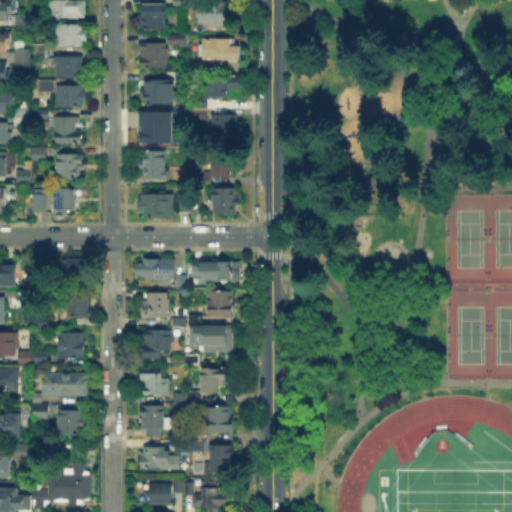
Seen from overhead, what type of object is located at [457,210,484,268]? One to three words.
tennis court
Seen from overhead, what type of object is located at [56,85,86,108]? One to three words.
house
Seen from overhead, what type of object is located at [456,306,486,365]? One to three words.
tennis court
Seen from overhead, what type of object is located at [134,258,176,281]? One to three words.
house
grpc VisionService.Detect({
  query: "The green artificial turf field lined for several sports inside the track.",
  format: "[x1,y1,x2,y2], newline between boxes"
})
[360,421,512,512]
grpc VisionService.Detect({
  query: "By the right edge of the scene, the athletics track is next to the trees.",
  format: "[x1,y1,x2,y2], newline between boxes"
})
[338,394,512,512]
